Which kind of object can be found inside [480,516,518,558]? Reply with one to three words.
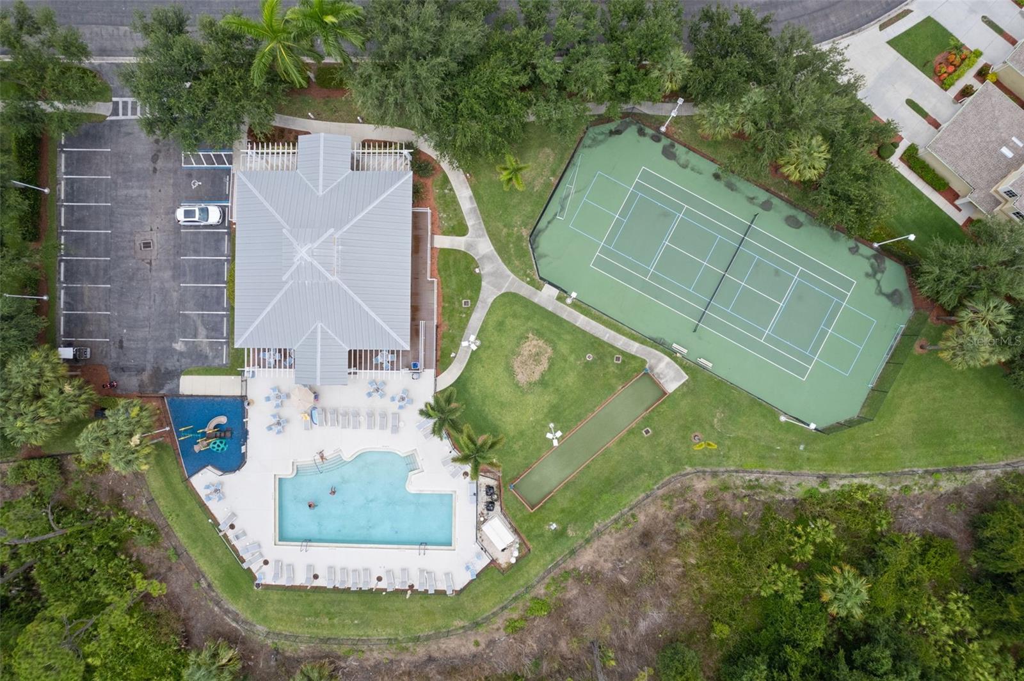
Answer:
shed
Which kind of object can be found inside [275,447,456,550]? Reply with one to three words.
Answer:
swimming pool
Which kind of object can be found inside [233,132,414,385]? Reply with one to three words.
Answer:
building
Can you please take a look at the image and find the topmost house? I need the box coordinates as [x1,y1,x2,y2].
[990,34,1024,102]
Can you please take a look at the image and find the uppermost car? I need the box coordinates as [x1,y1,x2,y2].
[174,204,226,227]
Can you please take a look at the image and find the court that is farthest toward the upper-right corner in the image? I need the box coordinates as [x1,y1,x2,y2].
[529,118,914,430]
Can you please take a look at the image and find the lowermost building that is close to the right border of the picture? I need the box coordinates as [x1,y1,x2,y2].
[917,79,1024,253]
